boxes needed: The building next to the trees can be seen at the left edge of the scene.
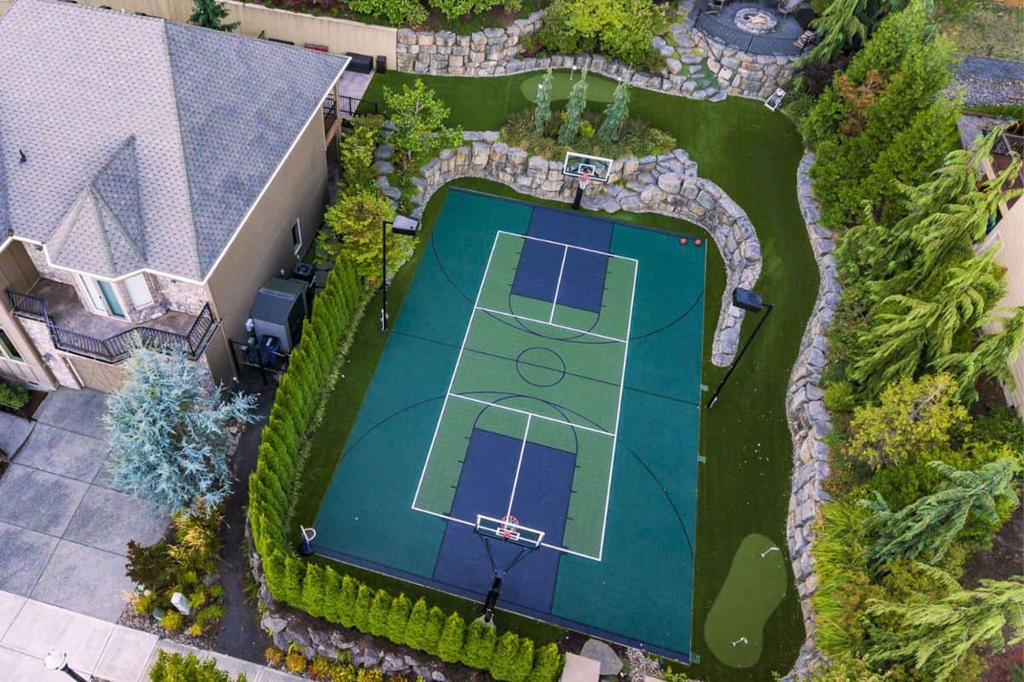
[0,0,351,408]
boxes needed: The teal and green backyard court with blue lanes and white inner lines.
[313,188,709,665]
